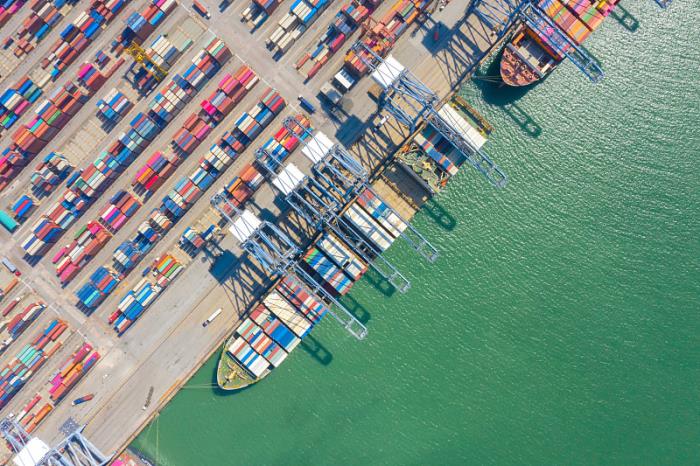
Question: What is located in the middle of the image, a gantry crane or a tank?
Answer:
gantry crane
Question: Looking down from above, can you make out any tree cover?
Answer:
No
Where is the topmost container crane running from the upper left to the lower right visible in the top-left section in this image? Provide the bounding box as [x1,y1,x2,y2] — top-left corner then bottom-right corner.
[124,40,174,86]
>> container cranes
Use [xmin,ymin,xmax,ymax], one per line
[282,115,440,266]
[124,40,174,86]
[358,20,399,64]
[0,413,117,466]
[463,0,608,89]
[210,192,368,342]
[252,147,410,298]
[354,39,513,190]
